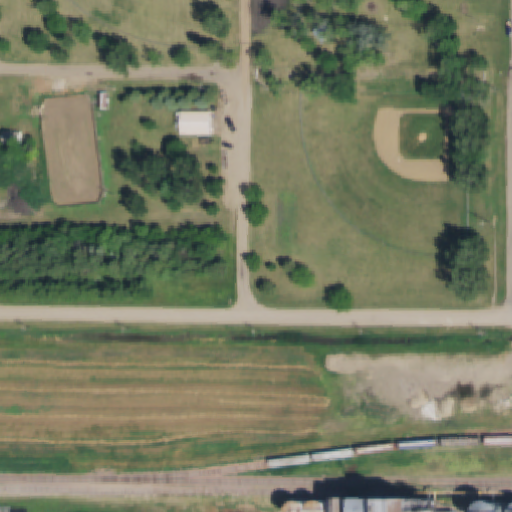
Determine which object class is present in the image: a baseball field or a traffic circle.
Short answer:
baseball field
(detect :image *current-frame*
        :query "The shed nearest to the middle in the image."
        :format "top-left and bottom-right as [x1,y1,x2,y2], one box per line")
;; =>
[178,111,213,135]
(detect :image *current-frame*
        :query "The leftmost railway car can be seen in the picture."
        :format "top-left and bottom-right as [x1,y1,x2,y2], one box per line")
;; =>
[267,454,311,469]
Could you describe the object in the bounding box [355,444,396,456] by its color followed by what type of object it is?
white rail car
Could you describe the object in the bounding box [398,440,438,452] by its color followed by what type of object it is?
white rail car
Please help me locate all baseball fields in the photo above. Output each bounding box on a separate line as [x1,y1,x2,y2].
[299,84,468,256]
